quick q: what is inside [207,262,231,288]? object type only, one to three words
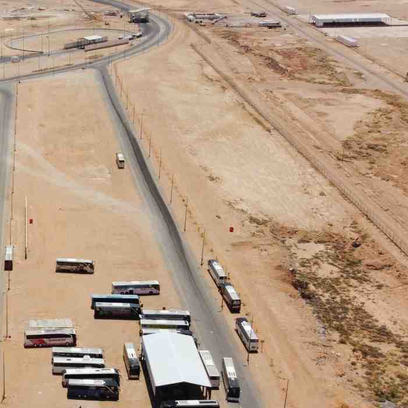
bus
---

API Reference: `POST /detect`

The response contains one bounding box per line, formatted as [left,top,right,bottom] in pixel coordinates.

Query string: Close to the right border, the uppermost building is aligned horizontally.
[300,10,393,26]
